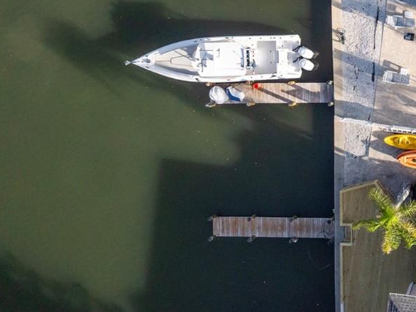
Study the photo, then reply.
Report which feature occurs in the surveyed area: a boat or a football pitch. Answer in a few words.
boat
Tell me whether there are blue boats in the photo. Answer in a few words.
No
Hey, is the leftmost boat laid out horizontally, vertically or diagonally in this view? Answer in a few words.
horizontally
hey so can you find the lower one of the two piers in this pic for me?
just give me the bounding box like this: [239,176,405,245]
[209,211,335,243]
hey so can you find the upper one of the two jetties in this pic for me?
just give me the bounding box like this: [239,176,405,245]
[206,80,334,108]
